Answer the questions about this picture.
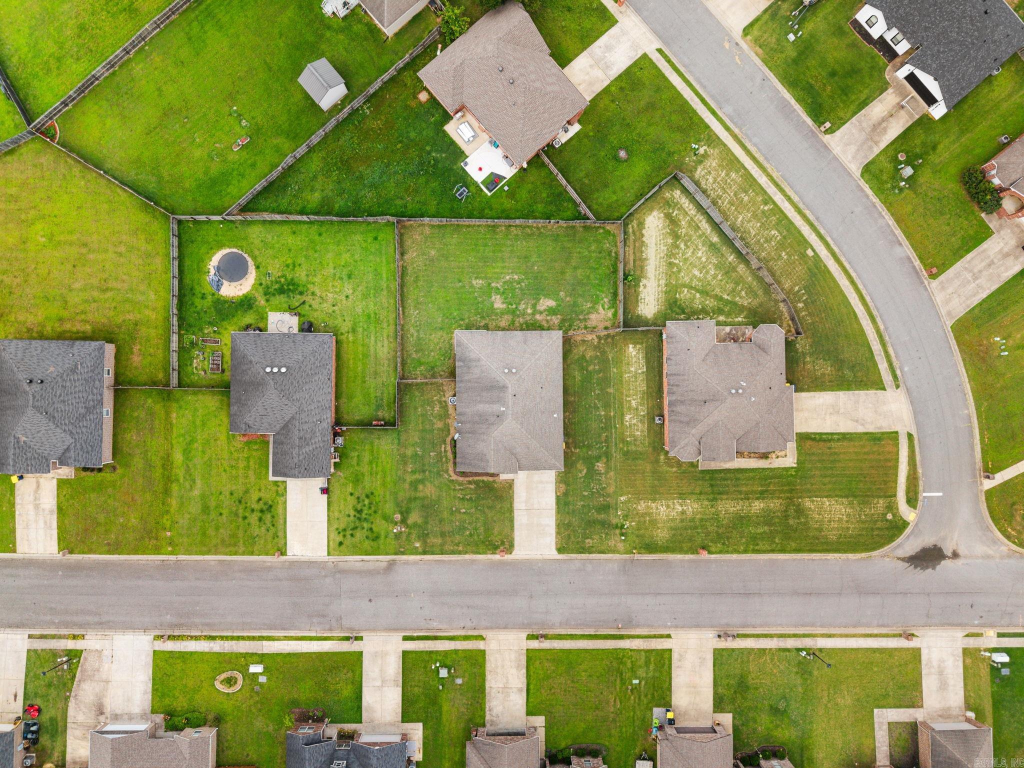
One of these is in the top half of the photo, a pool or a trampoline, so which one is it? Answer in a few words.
trampoline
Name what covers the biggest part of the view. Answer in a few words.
grass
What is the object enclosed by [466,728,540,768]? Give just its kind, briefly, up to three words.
house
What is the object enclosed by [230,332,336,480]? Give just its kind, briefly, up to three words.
house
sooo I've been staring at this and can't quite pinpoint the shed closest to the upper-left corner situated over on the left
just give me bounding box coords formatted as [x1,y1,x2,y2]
[297,57,347,109]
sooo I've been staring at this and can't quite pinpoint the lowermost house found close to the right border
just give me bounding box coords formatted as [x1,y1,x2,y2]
[918,720,993,768]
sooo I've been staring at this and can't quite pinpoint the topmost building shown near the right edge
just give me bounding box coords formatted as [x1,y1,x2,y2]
[857,0,1024,116]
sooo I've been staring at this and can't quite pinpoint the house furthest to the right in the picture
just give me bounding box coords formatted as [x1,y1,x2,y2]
[982,135,1024,224]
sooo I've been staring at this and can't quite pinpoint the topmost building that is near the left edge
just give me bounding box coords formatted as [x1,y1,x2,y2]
[0,339,115,474]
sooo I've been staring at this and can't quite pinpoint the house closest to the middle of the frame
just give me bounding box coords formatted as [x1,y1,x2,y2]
[454,330,564,474]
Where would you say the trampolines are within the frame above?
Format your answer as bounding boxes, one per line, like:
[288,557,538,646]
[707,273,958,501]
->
[217,250,250,281]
